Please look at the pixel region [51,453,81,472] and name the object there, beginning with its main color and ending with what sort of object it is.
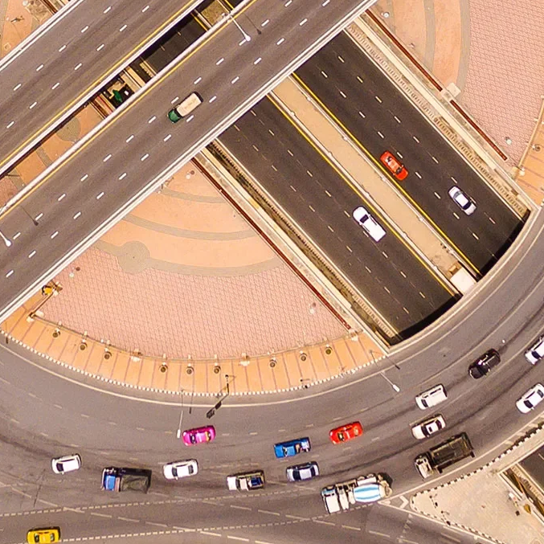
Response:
white car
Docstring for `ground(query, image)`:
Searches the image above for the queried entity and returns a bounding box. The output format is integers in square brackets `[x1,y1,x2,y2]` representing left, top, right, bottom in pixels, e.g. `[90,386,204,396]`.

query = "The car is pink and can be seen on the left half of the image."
[184,424,215,443]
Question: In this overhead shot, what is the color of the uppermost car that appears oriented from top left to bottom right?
red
